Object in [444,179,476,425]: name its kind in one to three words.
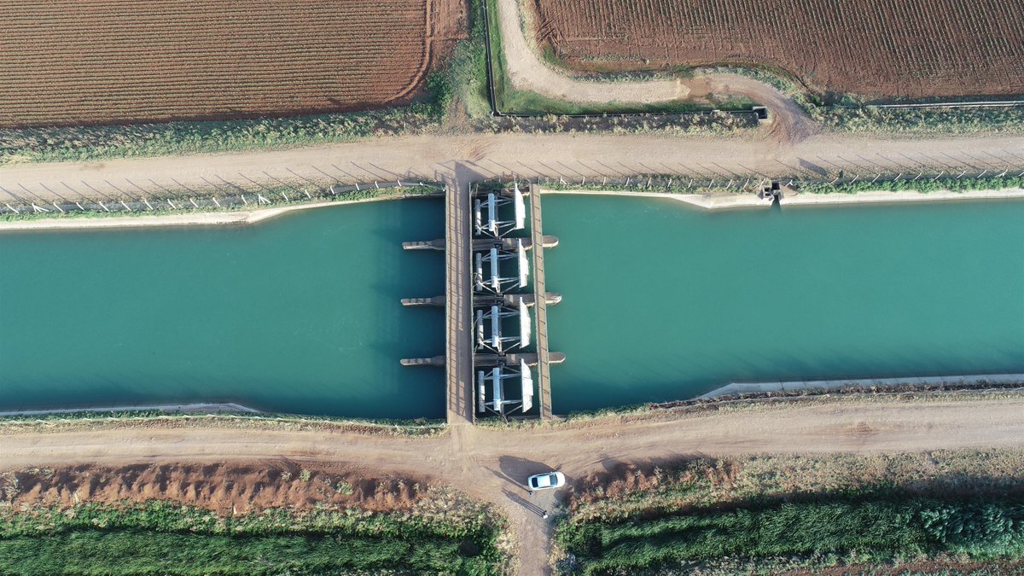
bridge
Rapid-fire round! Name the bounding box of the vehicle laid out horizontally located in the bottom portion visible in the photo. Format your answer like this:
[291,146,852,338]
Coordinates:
[528,471,566,490]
